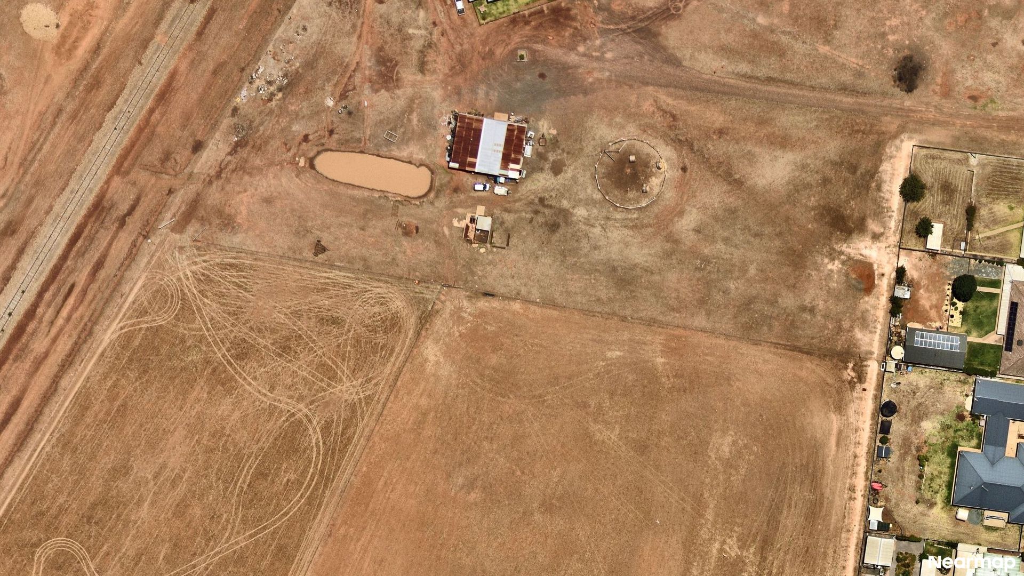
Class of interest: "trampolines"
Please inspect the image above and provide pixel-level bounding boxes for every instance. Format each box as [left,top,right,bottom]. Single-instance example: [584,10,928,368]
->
[880,421,892,435]
[881,401,897,417]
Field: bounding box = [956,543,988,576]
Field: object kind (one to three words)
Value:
house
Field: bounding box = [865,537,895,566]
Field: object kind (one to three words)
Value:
shed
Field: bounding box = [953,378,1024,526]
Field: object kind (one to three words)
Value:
house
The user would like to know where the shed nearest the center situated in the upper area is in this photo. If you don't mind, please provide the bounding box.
[463,214,492,245]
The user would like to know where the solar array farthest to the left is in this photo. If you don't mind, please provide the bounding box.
[915,332,960,351]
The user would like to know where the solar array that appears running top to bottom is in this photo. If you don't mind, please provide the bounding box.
[1005,302,1019,352]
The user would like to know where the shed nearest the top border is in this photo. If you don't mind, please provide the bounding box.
[449,113,527,179]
